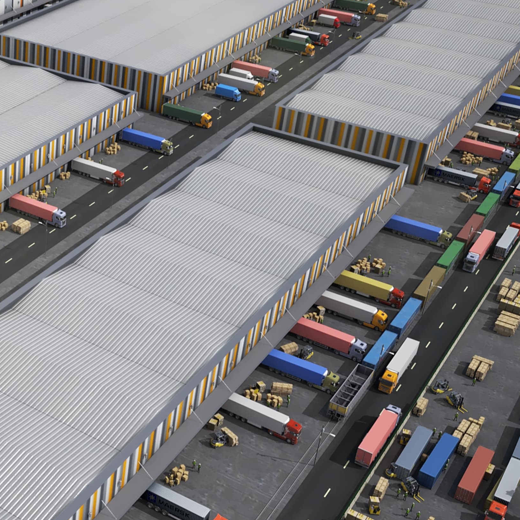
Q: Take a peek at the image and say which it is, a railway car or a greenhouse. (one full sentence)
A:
Of the two, only a railway car appears.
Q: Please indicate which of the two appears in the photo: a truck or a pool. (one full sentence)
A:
Of the two, only a truck appears.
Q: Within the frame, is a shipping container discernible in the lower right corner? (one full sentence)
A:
Yes, I can see a shipping container in the lower right corner.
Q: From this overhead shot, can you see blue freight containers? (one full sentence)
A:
Yes, looking at the shot, I can spot a blue freight container.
